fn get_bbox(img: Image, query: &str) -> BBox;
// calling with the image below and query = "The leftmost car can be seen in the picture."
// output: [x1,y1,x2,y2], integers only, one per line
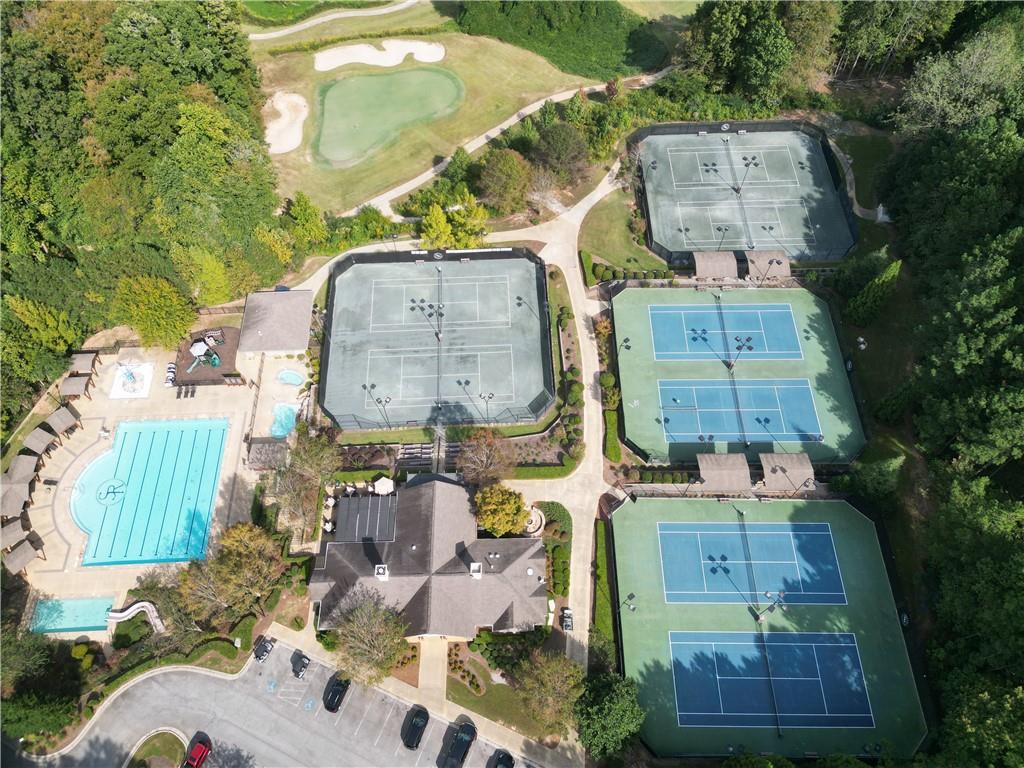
[178,739,211,768]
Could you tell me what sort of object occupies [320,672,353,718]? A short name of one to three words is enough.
car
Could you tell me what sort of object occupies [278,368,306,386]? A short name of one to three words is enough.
swimming pool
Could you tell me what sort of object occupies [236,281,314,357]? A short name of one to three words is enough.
building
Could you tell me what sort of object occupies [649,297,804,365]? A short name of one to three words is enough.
tennis court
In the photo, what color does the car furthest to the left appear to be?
red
